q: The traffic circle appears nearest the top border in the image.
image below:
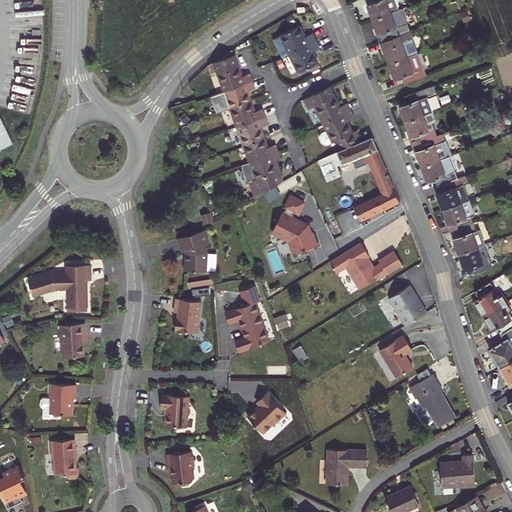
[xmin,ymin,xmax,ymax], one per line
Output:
[48,102,146,200]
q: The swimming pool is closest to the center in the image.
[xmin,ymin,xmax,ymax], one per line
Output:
[266,246,286,277]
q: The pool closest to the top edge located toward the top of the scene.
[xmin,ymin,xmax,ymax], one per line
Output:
[338,194,353,208]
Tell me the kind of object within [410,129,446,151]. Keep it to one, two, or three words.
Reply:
building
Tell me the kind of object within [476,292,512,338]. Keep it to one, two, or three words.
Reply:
house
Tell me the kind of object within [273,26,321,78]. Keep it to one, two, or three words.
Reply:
house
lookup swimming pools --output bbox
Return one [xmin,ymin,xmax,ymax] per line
[338,194,353,208]
[266,246,286,277]
[201,340,212,353]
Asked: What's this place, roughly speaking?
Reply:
residential area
